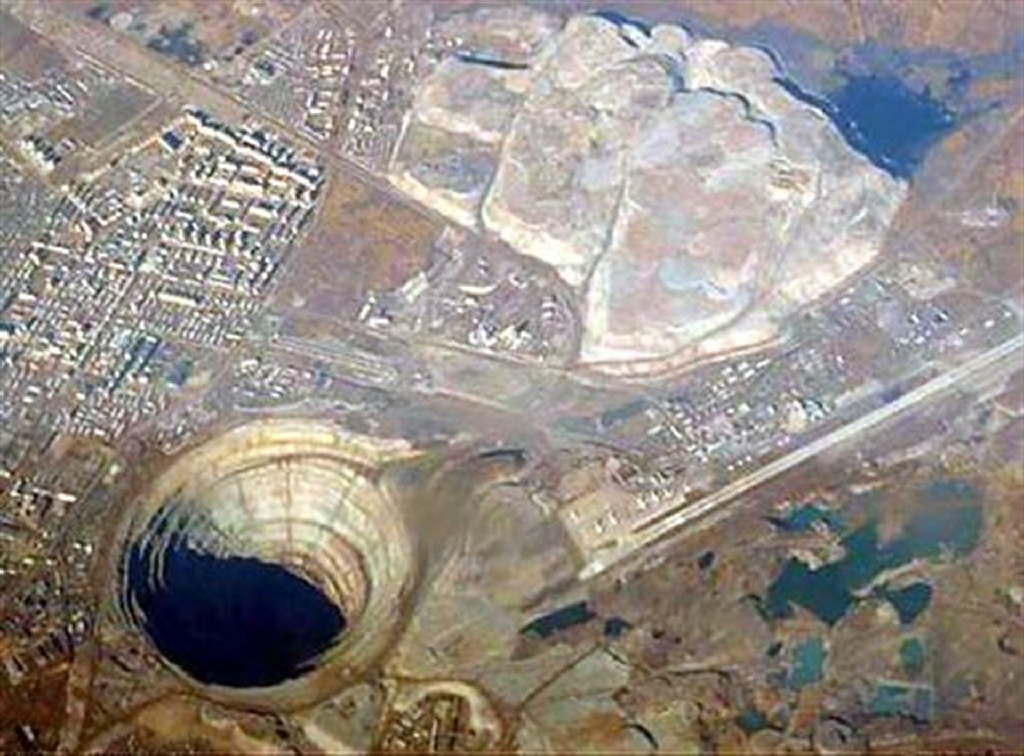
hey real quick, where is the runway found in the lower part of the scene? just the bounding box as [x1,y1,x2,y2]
[576,334,1024,583]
